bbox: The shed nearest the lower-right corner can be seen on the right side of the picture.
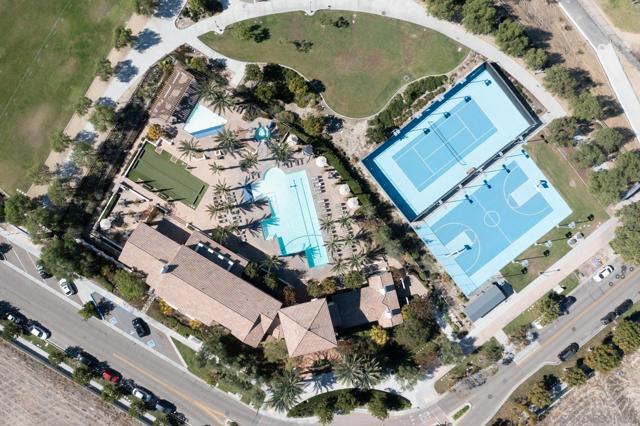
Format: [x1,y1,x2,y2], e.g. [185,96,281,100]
[462,284,506,322]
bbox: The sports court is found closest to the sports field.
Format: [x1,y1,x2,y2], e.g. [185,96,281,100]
[128,143,209,208]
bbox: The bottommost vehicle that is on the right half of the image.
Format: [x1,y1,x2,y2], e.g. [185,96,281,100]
[558,343,579,362]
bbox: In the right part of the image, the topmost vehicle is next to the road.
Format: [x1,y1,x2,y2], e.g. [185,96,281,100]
[592,264,613,281]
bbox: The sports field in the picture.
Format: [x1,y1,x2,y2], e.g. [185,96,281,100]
[0,0,136,194]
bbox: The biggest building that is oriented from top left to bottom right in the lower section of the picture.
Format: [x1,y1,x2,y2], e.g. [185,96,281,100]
[118,222,286,347]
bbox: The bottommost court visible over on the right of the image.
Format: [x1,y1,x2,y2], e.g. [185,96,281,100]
[411,147,572,296]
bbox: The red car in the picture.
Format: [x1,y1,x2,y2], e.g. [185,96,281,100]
[102,368,123,384]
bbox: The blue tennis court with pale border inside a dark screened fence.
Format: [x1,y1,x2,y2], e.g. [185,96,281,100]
[363,64,536,220]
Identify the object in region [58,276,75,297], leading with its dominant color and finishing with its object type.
white car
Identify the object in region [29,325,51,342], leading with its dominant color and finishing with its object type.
white car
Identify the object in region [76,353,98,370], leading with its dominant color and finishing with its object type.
black car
